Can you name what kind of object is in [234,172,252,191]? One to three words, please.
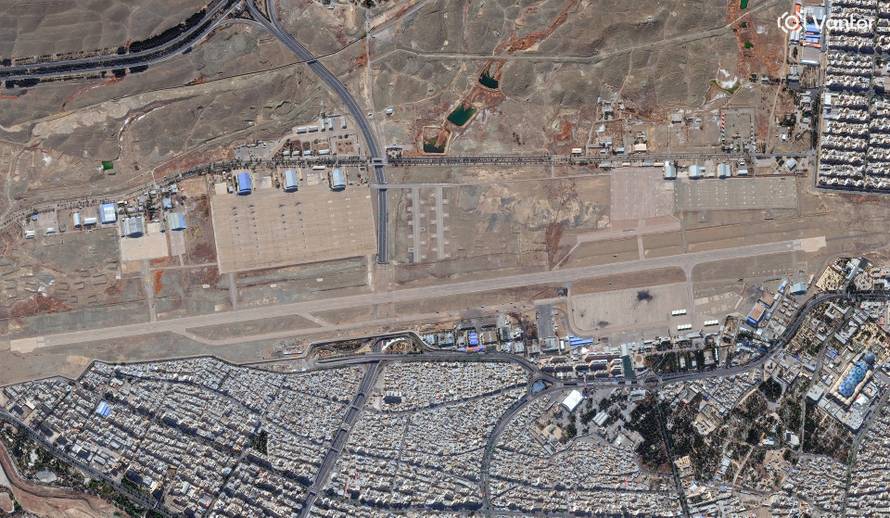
hangar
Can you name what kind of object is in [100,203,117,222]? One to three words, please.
building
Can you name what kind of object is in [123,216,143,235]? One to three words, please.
hangar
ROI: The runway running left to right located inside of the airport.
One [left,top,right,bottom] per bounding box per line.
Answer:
[10,236,827,353]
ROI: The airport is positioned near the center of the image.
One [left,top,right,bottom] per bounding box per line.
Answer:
[10,162,827,353]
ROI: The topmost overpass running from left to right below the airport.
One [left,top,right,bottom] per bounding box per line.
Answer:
[322,353,395,367]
